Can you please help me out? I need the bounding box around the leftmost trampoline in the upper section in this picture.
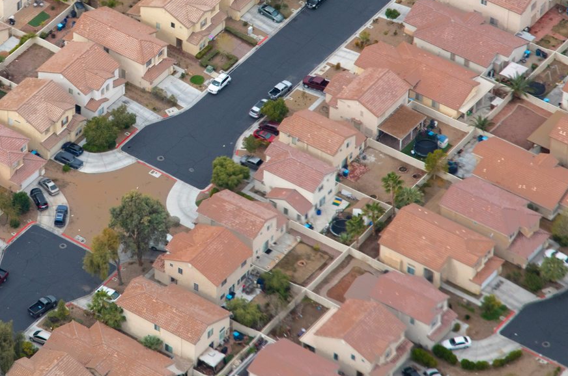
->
[413,130,440,152]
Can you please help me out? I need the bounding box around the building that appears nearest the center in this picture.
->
[254,144,337,225]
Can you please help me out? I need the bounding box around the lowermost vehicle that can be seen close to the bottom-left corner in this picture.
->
[26,329,54,349]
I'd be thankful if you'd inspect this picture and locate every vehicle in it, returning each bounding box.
[32,192,47,209]
[54,205,68,229]
[94,282,124,301]
[26,329,54,349]
[252,128,279,144]
[267,80,293,102]
[243,154,266,171]
[61,141,85,157]
[208,73,231,94]
[38,177,62,197]
[247,101,267,120]
[26,296,60,319]
[442,336,472,350]
[55,152,81,169]
[0,269,10,285]
[546,251,568,267]
[307,0,324,8]
[255,121,282,137]
[300,74,331,94]
[259,6,284,22]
